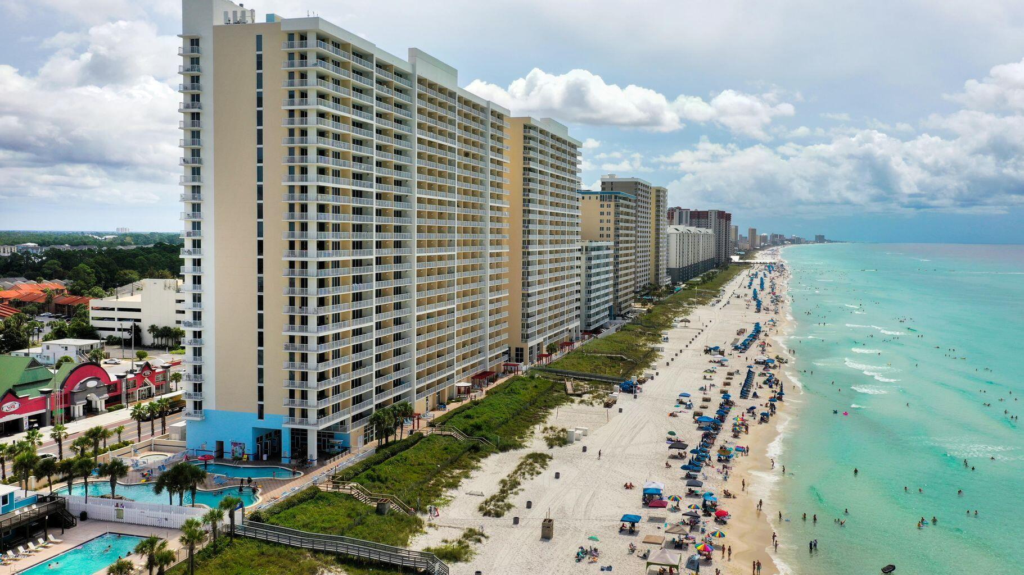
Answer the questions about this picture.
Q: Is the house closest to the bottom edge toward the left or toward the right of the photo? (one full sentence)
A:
The house closest to the bottom edge is on the left side of the image.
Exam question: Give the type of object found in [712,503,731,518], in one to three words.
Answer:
umbrella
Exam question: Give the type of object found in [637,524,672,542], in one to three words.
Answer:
tent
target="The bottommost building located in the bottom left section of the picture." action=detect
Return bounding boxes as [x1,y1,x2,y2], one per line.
[0,481,89,545]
